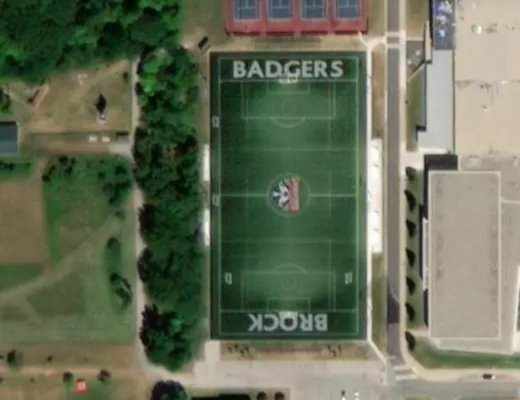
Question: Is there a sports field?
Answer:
Yes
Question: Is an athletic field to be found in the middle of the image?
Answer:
Yes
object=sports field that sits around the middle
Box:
[210,52,367,340]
